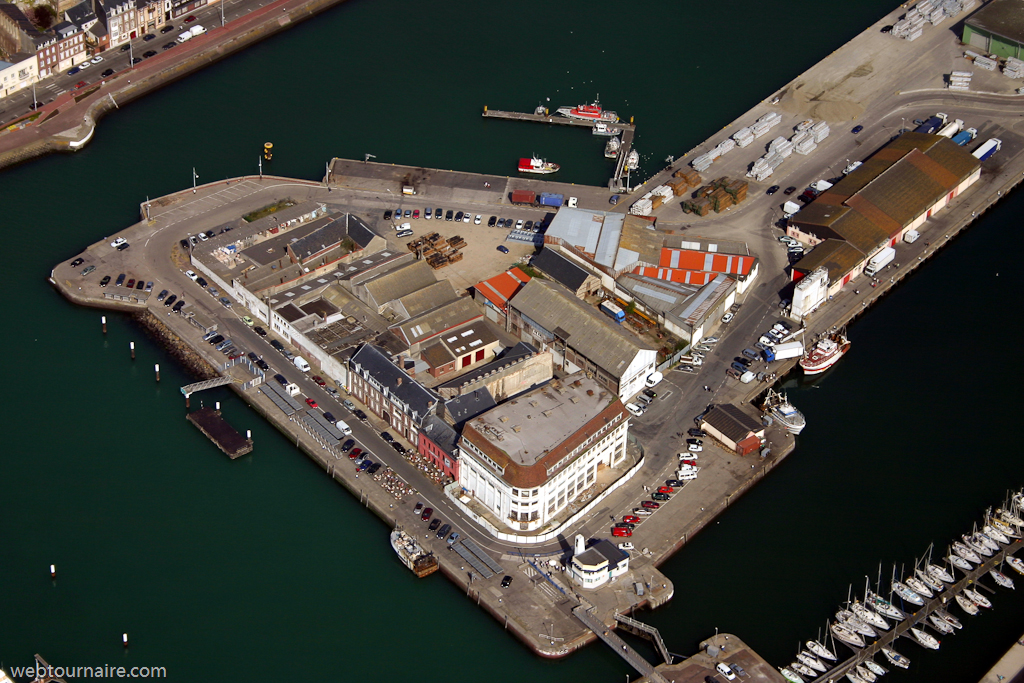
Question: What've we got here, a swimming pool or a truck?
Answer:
truck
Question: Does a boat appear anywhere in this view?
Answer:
Yes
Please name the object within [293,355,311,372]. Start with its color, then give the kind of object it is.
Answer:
white vehicle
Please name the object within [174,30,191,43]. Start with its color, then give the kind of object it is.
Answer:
white vehicle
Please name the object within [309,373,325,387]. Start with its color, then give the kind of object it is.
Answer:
red car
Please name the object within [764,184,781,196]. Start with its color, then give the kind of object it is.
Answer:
black vehicle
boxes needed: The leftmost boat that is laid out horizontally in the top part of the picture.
[518,155,562,174]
